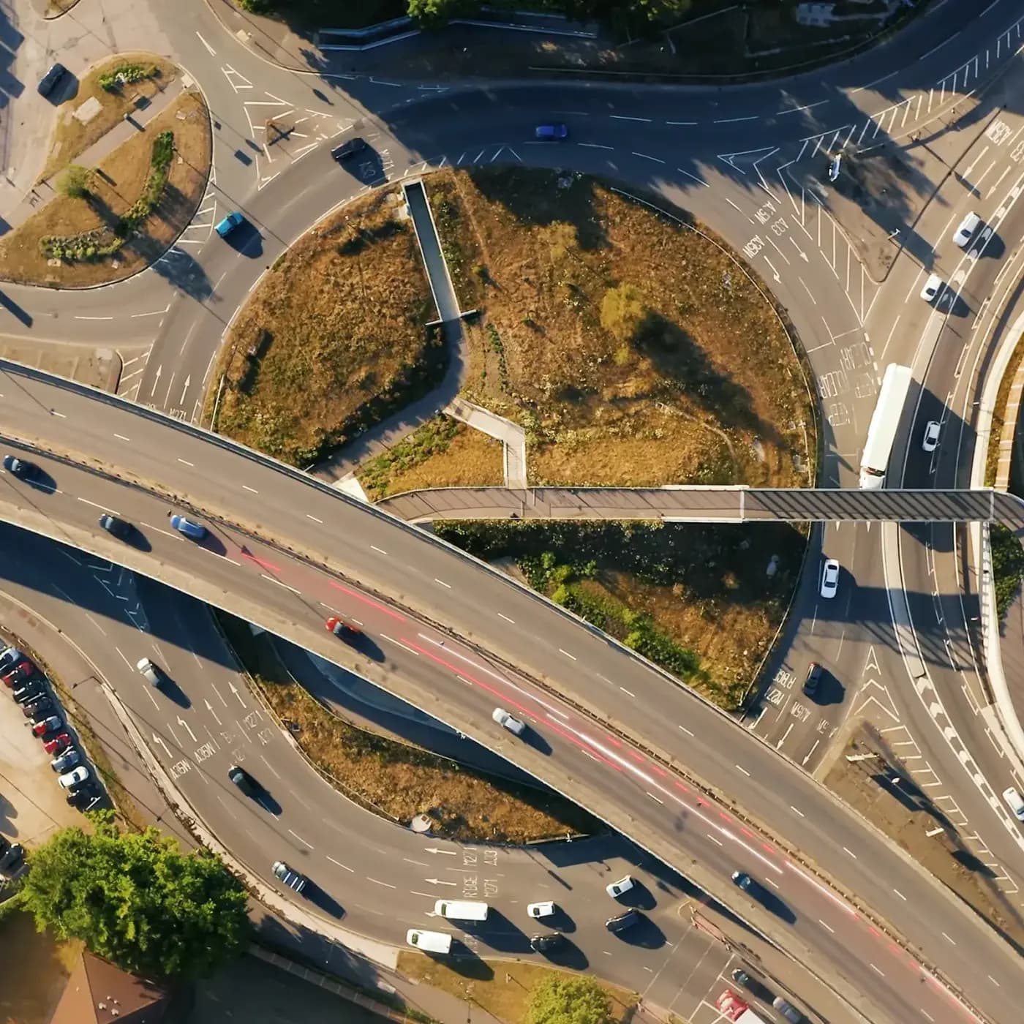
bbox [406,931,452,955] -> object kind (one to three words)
vehicle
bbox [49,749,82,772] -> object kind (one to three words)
car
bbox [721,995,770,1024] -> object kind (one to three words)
truck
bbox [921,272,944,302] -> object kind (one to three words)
car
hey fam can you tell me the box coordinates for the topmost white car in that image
[952,210,983,247]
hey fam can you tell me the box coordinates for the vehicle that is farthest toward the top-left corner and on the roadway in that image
[36,63,65,95]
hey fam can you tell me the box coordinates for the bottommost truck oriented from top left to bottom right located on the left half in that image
[271,863,309,895]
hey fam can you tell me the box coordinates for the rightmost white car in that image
[1001,786,1024,822]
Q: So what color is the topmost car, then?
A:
black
